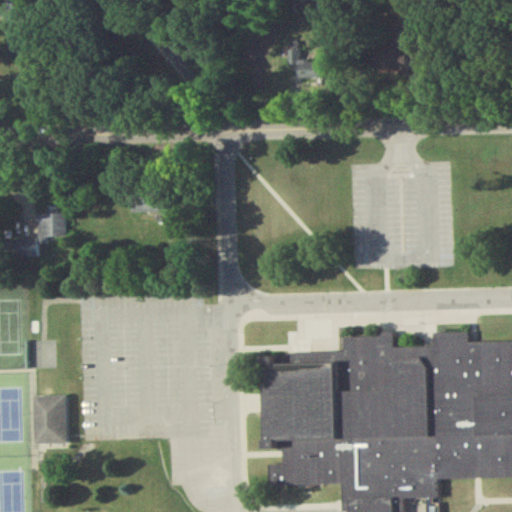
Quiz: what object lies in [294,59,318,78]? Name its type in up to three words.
house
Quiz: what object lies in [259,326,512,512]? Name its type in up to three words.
building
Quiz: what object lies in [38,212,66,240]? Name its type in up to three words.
house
